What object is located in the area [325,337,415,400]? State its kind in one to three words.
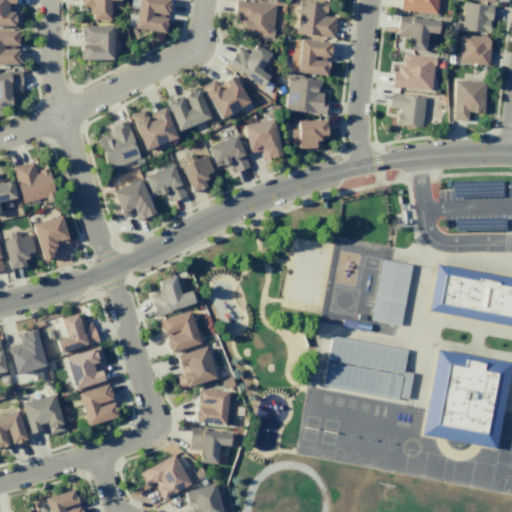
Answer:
building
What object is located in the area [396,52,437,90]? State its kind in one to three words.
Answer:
house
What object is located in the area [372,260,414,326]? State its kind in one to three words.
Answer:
building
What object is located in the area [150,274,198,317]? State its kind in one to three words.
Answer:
house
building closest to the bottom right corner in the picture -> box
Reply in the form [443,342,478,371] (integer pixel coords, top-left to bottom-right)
[424,350,512,448]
